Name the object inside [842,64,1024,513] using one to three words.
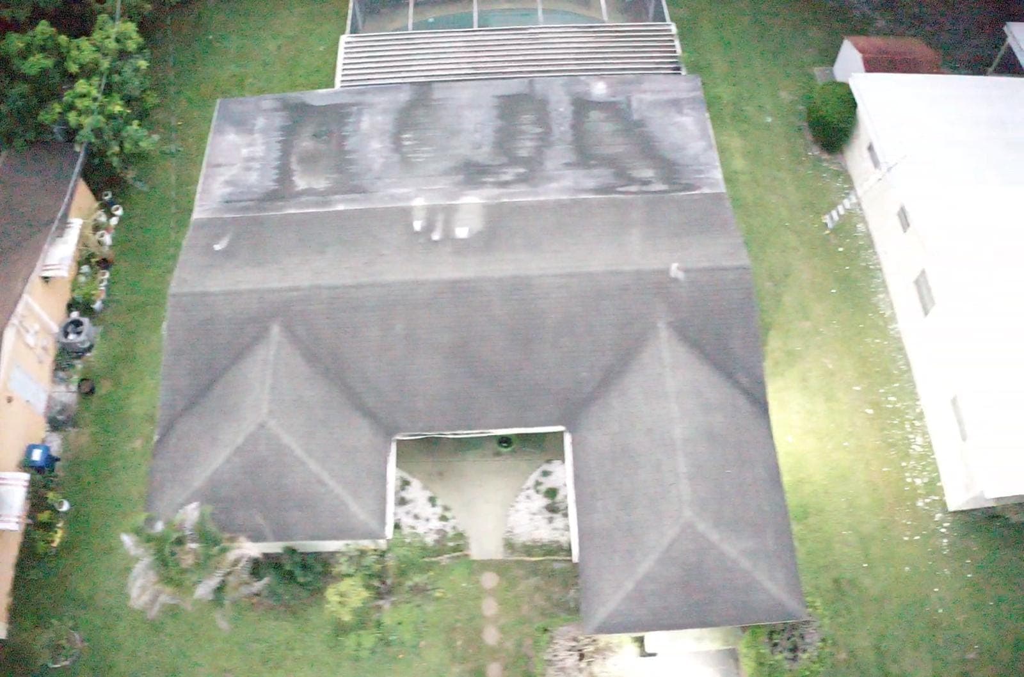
house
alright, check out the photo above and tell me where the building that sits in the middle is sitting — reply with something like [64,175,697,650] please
[147,75,808,637]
